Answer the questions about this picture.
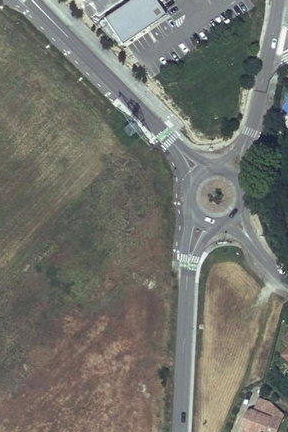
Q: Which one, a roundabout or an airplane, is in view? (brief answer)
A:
roundabout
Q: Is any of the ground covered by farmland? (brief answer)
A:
Yes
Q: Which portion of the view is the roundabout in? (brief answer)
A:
right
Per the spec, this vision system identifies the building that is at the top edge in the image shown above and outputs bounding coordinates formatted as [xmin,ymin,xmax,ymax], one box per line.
[106,0,167,44]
